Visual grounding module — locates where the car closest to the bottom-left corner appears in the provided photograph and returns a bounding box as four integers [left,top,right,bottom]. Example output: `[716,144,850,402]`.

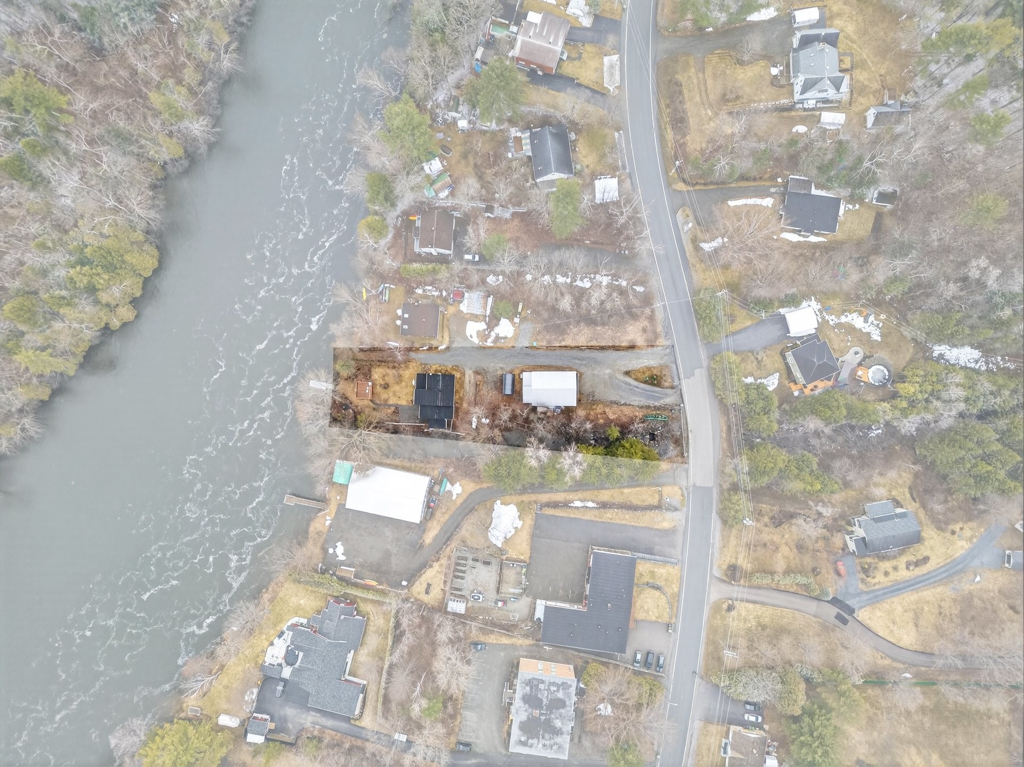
[273,680,285,699]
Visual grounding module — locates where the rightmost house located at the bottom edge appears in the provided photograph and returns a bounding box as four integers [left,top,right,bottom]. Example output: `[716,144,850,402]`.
[720,727,767,767]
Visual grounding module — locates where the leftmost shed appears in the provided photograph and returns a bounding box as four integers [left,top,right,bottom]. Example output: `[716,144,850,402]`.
[246,712,273,744]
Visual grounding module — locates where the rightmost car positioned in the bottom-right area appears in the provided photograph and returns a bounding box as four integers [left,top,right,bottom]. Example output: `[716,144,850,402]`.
[836,562,848,578]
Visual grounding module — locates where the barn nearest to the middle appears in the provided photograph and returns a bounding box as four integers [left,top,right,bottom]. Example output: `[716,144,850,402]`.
[521,371,577,411]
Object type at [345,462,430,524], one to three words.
building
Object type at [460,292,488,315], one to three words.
shed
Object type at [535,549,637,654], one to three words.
building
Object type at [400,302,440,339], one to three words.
house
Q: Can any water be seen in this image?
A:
Yes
